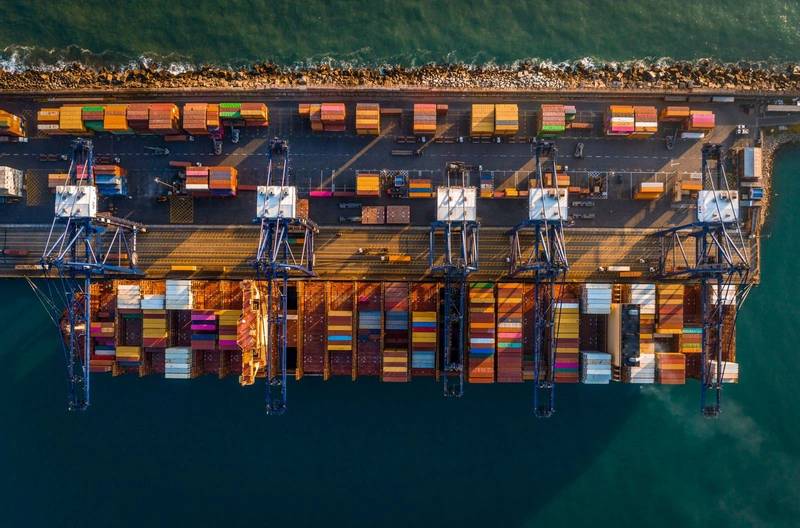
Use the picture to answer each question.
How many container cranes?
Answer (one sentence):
There are 5 container cranes in the image.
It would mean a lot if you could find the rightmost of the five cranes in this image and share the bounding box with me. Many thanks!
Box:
[648,143,748,421]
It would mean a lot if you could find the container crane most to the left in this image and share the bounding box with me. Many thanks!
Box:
[42,141,150,414]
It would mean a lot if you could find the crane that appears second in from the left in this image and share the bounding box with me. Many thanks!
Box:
[255,138,323,417]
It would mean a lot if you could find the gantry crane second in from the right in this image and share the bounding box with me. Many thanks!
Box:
[504,141,573,422]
